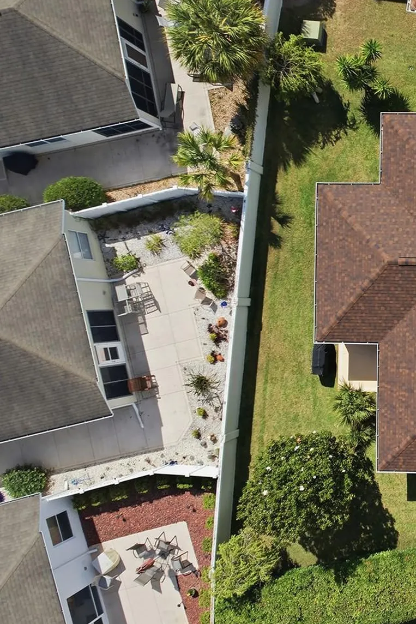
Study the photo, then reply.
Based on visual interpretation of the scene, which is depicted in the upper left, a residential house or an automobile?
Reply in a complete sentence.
The feature located in the upper left is a residential house.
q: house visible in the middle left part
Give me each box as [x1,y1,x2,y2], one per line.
[0,202,142,442]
